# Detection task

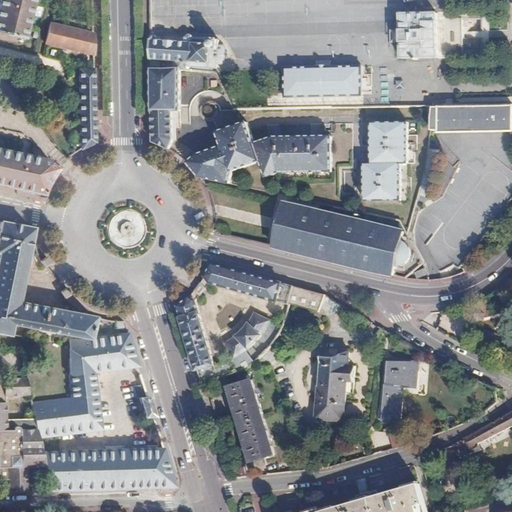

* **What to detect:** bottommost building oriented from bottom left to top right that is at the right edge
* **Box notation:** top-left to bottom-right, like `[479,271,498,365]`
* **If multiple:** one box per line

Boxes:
[463,410,512,448]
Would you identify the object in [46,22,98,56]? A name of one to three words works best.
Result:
barn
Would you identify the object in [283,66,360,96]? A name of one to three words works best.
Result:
building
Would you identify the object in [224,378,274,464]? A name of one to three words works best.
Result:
building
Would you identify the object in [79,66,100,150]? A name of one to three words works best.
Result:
house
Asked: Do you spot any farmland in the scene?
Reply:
No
